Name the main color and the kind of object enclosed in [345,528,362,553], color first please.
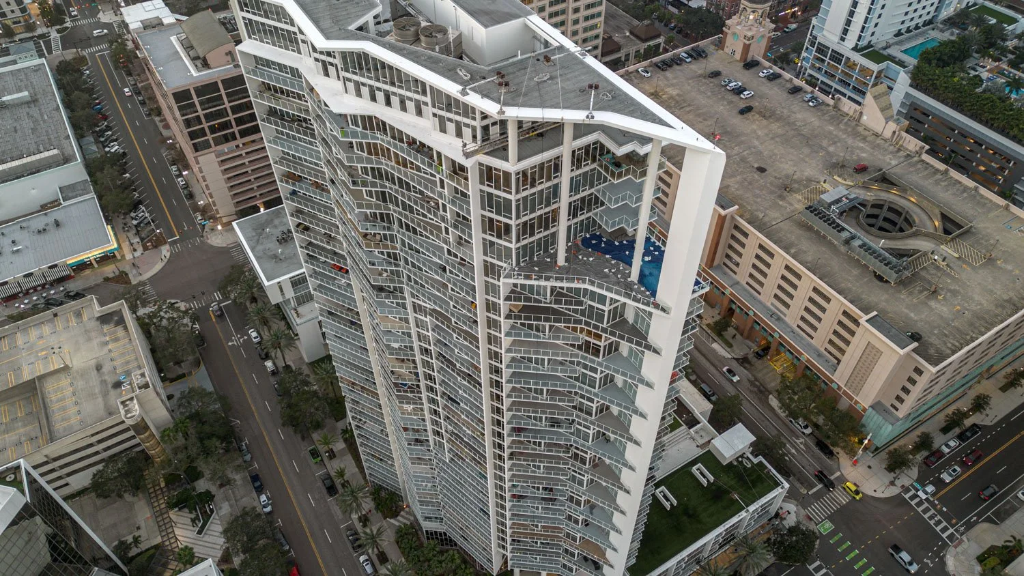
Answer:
black car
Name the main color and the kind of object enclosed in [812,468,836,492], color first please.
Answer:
black car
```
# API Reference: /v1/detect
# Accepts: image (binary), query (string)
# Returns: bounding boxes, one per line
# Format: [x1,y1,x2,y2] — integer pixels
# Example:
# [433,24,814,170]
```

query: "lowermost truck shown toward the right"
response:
[891,542,917,574]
